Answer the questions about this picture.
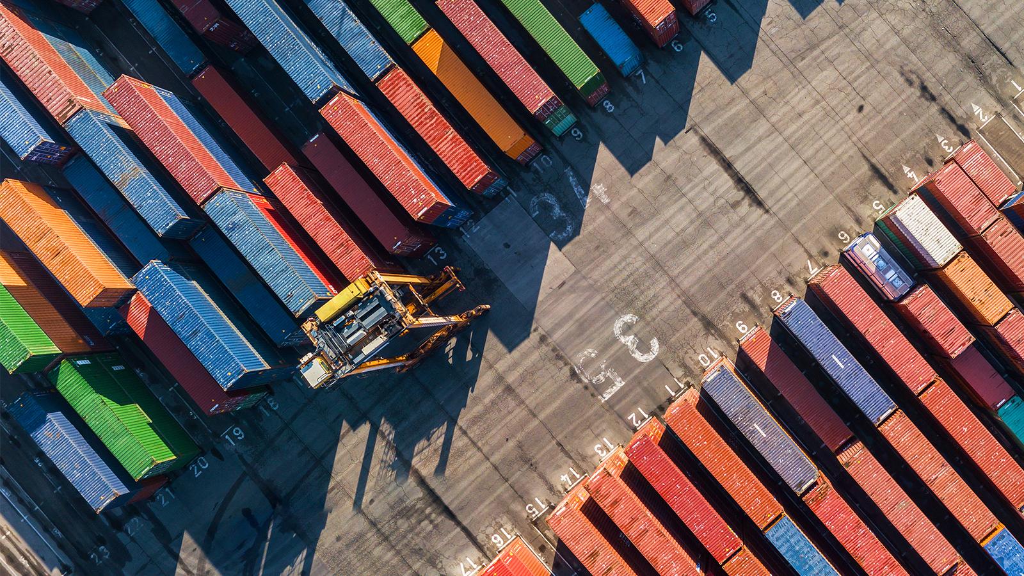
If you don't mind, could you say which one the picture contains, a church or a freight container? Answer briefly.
freight container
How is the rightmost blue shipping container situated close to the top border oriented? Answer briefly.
at an angle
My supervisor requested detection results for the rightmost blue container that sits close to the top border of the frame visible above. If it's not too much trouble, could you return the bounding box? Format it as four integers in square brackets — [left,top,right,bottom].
[580,1,646,77]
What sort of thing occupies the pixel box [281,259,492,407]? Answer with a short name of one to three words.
work vehicle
